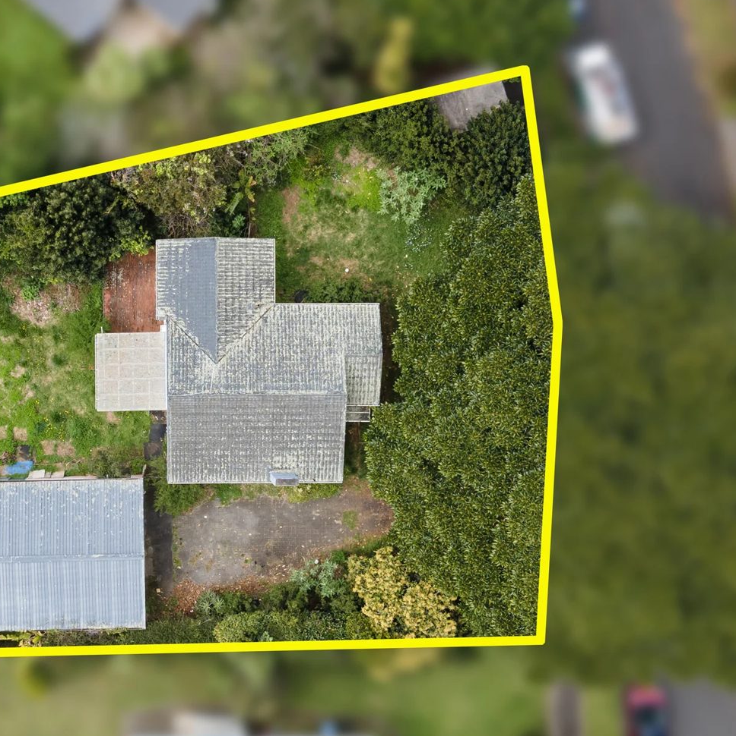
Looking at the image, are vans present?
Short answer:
Yes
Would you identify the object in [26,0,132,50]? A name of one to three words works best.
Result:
house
